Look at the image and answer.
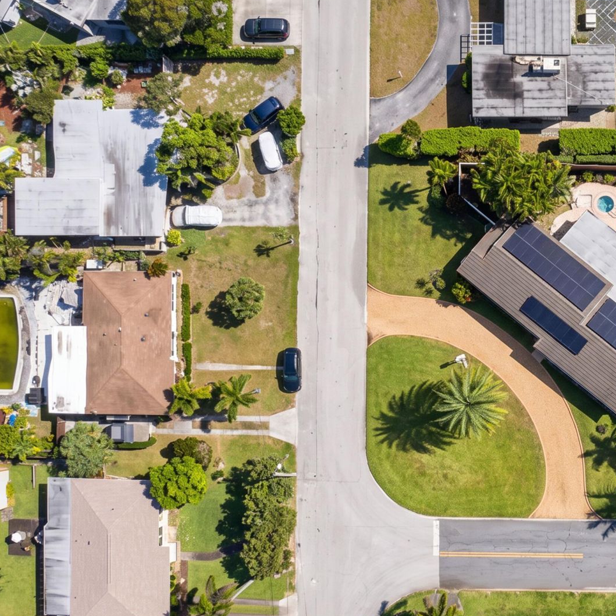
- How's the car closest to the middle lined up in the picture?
from top to bottom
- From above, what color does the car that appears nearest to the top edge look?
black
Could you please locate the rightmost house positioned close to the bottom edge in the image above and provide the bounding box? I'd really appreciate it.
[45,474,189,616]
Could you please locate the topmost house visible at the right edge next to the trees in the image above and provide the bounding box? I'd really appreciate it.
[471,0,615,119]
